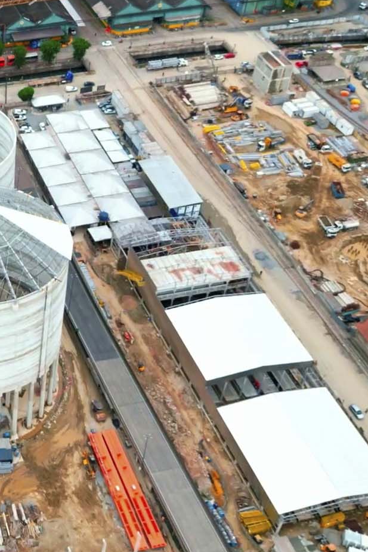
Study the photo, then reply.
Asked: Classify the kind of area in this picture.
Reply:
industrial area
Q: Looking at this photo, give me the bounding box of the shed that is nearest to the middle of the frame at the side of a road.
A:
[139,245,253,309]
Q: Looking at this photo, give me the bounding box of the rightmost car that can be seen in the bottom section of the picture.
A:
[349,402,366,419]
